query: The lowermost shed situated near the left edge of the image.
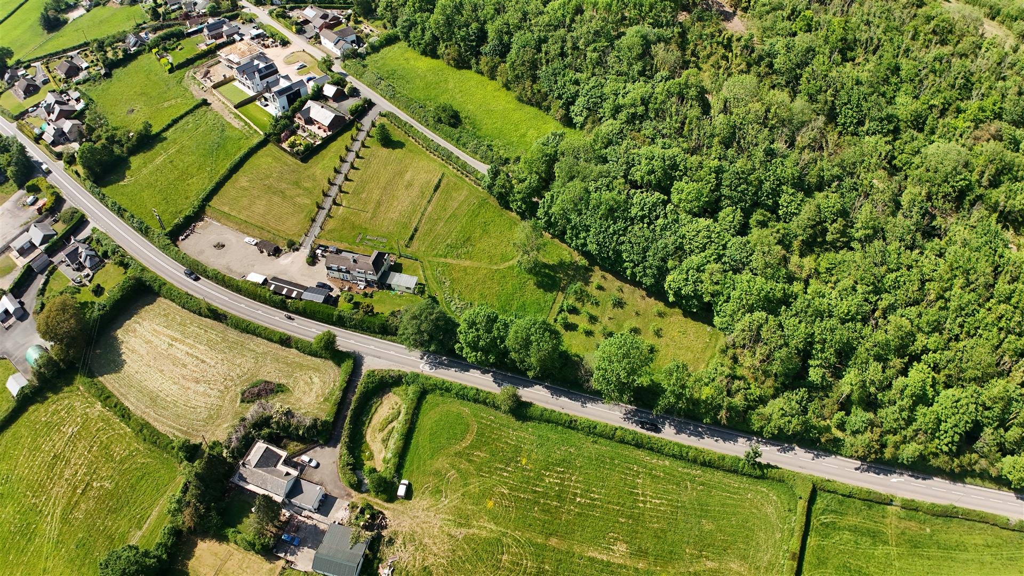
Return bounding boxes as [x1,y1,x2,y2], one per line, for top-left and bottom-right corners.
[5,373,28,400]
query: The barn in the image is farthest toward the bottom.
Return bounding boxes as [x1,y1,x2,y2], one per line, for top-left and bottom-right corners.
[311,524,371,576]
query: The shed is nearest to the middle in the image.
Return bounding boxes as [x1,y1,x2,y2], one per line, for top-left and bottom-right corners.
[390,271,419,294]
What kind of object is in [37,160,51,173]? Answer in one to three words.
vehicle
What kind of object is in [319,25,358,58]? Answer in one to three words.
house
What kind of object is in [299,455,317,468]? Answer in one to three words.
vehicle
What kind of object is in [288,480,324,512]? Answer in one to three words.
building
